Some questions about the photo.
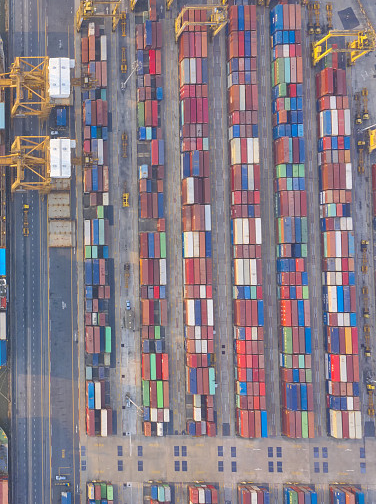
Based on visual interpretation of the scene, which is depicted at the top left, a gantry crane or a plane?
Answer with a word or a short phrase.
gantry crane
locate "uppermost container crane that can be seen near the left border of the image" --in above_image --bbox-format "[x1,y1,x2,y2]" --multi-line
[0,53,112,131]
